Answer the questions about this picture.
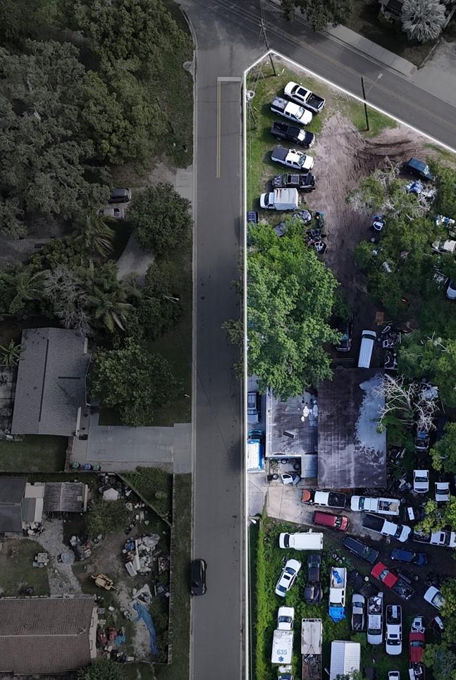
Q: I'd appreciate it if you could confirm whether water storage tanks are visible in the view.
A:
No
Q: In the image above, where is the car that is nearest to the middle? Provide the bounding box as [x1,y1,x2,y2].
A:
[245,392,262,425]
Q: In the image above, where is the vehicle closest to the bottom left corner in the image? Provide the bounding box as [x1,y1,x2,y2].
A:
[93,572,118,589]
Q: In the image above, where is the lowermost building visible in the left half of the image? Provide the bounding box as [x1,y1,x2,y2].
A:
[0,595,100,677]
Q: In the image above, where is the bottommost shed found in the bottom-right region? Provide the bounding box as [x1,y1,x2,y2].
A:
[330,636,360,680]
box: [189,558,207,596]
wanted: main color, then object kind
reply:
black car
